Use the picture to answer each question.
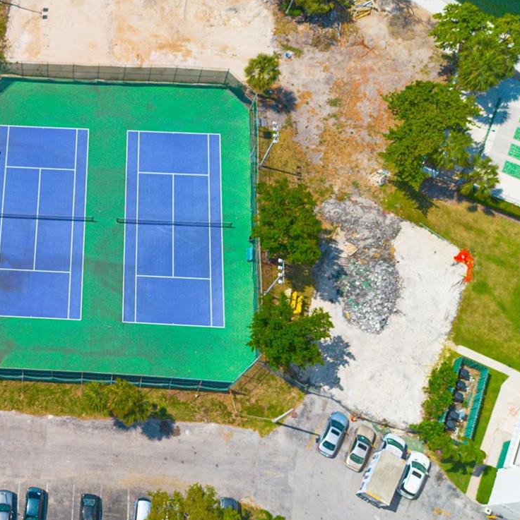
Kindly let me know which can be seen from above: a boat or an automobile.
automobile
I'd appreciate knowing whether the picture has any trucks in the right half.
Yes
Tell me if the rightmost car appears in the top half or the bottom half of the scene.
bottom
